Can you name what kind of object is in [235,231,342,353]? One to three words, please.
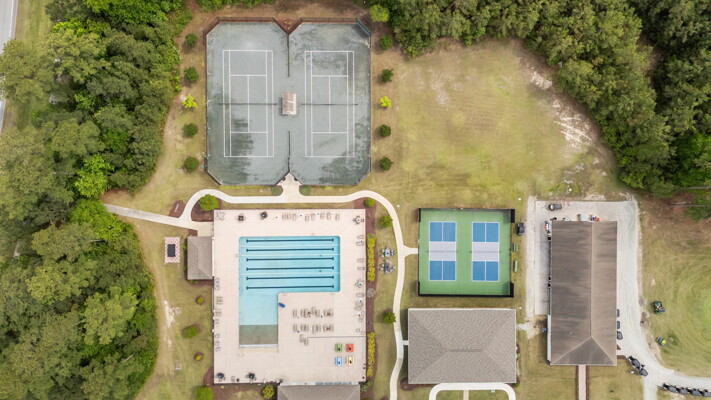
swimming pool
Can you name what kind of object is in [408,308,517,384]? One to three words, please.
building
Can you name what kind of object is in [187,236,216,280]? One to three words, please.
building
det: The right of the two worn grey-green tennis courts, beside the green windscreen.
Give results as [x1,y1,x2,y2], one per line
[289,23,371,185]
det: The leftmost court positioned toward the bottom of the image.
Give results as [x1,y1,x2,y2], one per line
[421,209,465,294]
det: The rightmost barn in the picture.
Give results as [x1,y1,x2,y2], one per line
[542,221,617,365]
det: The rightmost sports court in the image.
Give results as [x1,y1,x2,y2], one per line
[465,209,512,294]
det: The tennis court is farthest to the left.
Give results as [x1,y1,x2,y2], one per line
[206,22,289,185]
